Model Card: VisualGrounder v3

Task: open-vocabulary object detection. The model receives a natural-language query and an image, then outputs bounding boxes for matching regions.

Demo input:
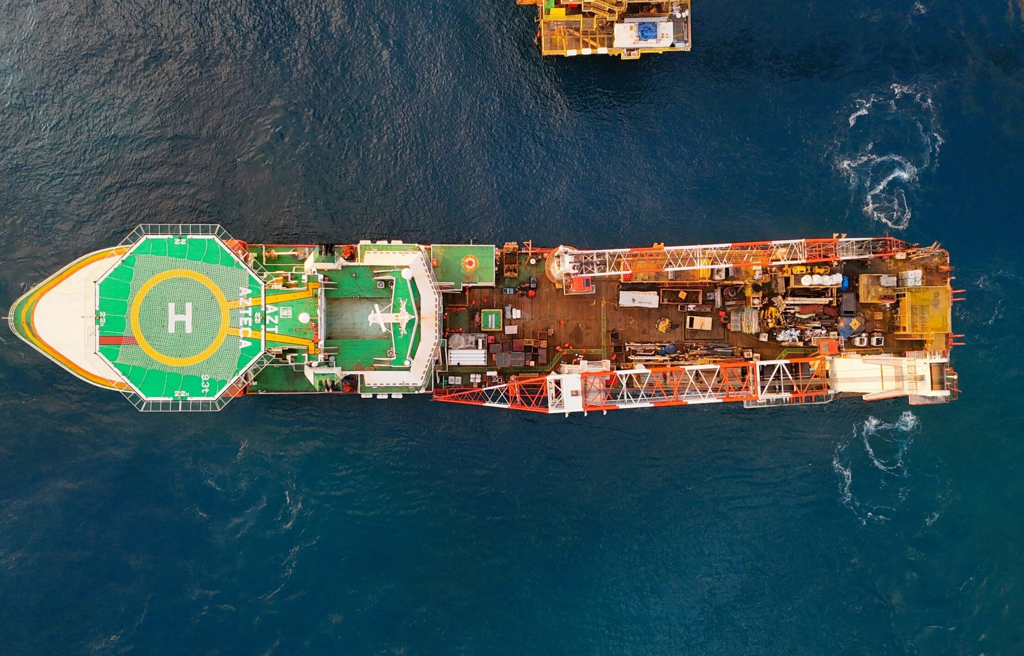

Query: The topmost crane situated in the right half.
[545,231,920,295]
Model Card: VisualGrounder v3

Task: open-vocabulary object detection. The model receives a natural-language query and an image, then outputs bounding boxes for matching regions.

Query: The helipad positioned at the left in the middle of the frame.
[81,224,275,412]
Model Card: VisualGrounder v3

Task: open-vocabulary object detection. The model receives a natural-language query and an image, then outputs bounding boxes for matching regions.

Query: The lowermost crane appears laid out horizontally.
[431,336,963,416]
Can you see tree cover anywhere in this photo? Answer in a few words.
No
